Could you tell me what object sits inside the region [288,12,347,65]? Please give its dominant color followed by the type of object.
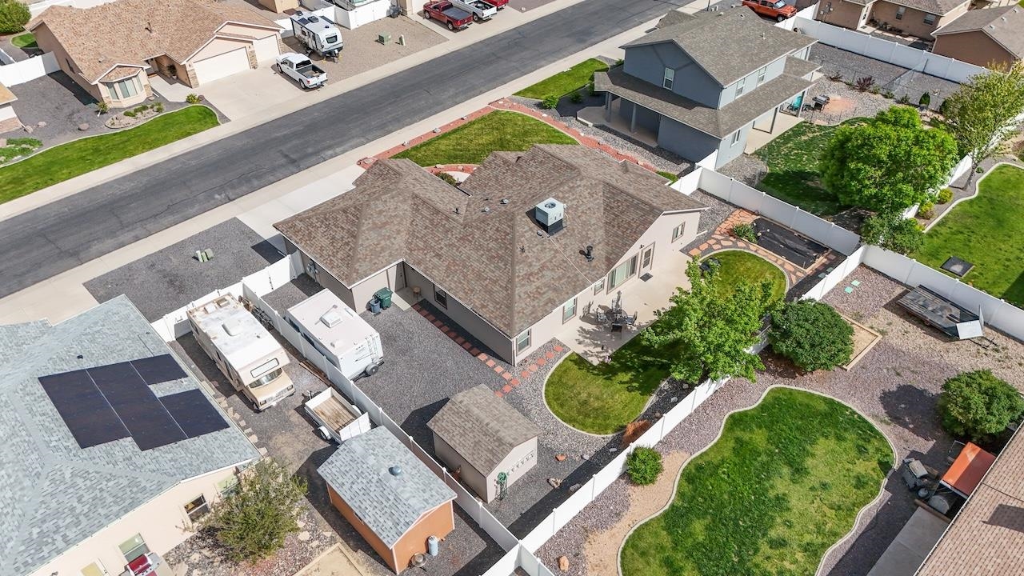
white trailer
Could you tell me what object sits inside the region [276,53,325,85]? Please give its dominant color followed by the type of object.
white truck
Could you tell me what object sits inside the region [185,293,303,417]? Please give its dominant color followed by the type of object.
white camper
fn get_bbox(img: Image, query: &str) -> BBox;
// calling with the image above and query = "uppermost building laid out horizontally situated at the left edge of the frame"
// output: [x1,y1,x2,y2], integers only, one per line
[21,0,284,107]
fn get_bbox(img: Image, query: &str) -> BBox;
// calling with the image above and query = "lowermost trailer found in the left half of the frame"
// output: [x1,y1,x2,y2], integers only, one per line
[304,380,366,440]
